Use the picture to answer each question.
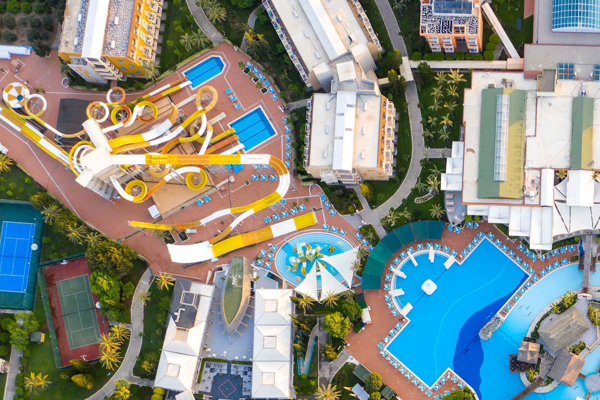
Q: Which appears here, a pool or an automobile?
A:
pool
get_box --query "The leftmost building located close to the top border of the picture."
[58,0,162,88]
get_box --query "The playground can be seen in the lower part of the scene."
[287,242,324,276]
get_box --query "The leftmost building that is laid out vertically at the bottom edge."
[154,279,221,390]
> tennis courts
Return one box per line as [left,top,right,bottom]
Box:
[0,201,43,310]
[35,254,106,367]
